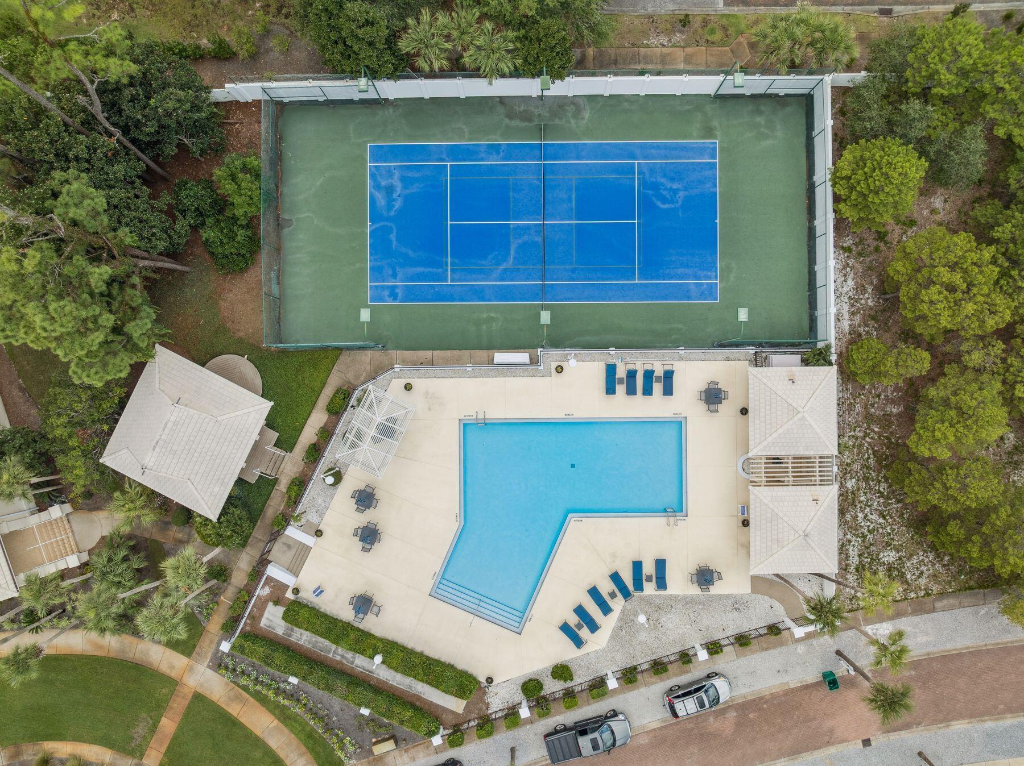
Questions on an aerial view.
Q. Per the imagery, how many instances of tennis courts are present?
one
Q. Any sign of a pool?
Yes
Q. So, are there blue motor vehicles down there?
No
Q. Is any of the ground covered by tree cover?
Yes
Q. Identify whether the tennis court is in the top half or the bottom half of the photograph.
top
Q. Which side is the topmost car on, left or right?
right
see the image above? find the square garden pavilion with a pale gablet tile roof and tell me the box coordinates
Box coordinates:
[99,343,274,522]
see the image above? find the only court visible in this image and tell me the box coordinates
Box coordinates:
[273,92,818,349]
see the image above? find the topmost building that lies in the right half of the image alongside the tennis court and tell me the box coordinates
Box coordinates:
[747,365,839,459]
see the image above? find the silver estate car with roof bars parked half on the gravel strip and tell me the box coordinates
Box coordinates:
[662,674,736,722]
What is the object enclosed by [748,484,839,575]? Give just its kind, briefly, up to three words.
building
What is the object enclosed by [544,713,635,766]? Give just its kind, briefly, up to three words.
truck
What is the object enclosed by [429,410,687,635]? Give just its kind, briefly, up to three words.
swimming pool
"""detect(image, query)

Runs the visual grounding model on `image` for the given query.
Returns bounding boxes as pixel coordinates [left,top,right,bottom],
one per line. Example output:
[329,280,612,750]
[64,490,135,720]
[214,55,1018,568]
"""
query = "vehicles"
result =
[662,674,736,722]
[438,761,462,766]
[544,713,635,766]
